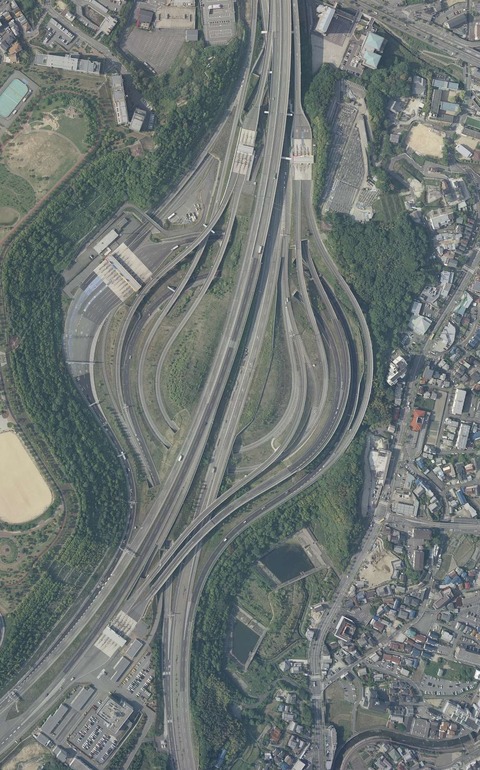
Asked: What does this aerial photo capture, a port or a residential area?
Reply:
residential area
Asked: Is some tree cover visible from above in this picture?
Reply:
Yes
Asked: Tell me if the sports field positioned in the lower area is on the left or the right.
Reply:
left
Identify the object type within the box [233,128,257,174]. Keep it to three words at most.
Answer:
toll station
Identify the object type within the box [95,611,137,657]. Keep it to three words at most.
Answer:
toll station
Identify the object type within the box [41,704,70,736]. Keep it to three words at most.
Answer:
shed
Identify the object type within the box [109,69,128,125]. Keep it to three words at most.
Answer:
building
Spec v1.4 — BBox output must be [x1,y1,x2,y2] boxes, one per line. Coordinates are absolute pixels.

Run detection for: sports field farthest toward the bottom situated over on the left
[0,432,52,523]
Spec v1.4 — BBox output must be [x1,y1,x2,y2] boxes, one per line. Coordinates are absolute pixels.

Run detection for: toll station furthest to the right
[291,138,314,180]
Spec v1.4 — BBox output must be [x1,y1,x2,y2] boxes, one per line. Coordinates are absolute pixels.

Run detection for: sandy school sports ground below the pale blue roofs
[407,124,445,158]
